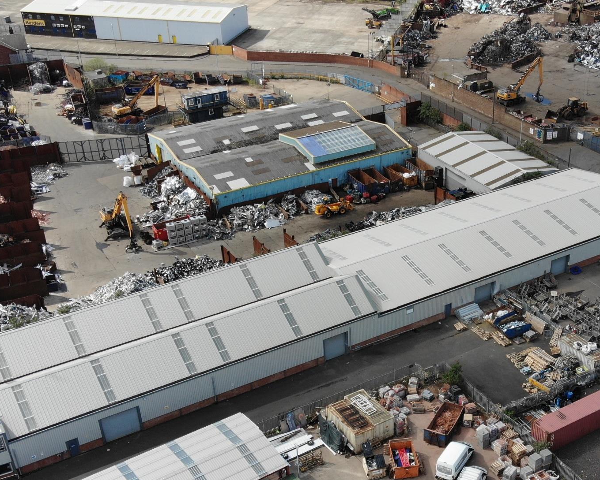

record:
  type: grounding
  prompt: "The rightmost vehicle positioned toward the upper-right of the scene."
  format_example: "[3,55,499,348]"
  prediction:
[550,96,589,122]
